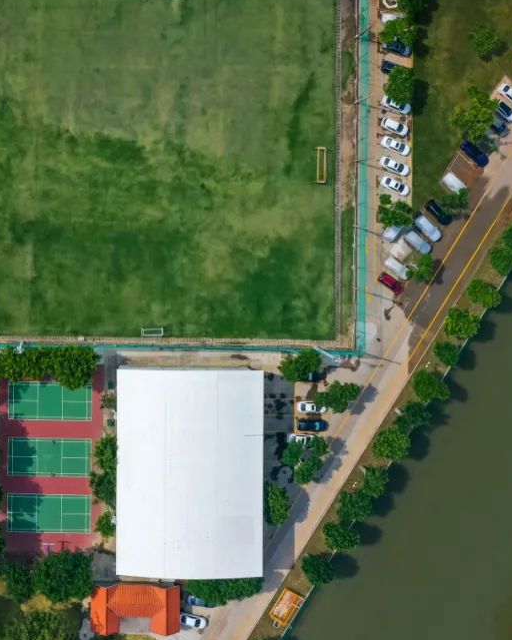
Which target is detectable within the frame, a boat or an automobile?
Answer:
automobile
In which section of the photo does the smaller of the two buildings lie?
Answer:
bottom left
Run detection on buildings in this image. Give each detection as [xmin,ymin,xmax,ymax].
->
[91,582,181,637]
[115,368,263,579]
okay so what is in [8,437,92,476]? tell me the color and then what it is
green sports court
